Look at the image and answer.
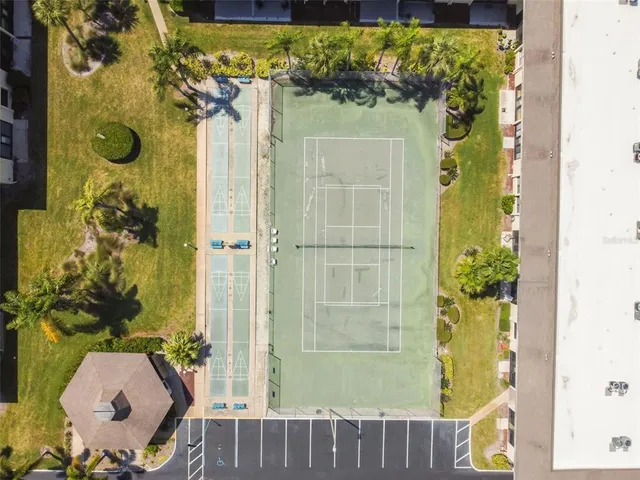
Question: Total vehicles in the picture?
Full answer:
Not a single vehicle can be seen.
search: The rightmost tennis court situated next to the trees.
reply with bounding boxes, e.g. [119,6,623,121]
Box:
[267,79,441,418]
